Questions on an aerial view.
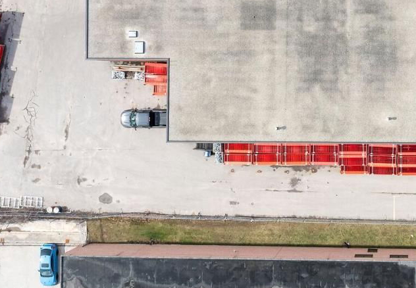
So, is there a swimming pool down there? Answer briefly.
No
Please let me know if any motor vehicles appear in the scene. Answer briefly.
Yes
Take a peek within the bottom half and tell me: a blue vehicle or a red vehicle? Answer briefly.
blue vehicle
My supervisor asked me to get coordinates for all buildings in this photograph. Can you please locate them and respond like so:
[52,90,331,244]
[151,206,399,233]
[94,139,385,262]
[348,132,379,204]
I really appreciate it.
[62,243,416,288]
[86,0,416,143]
